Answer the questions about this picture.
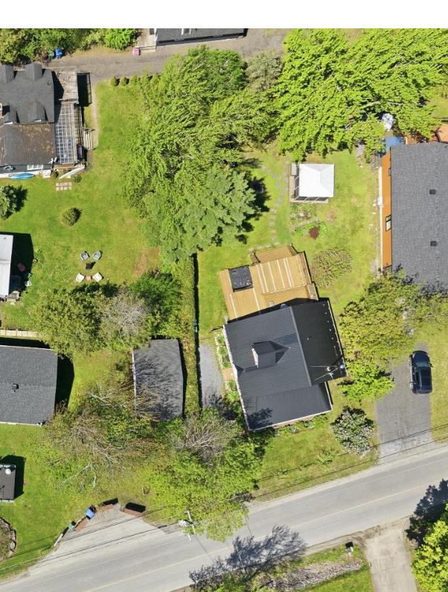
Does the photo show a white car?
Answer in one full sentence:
No, no white car can be seen from above.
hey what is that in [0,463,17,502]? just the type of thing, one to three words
shed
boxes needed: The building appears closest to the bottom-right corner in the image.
[219,299,348,429]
